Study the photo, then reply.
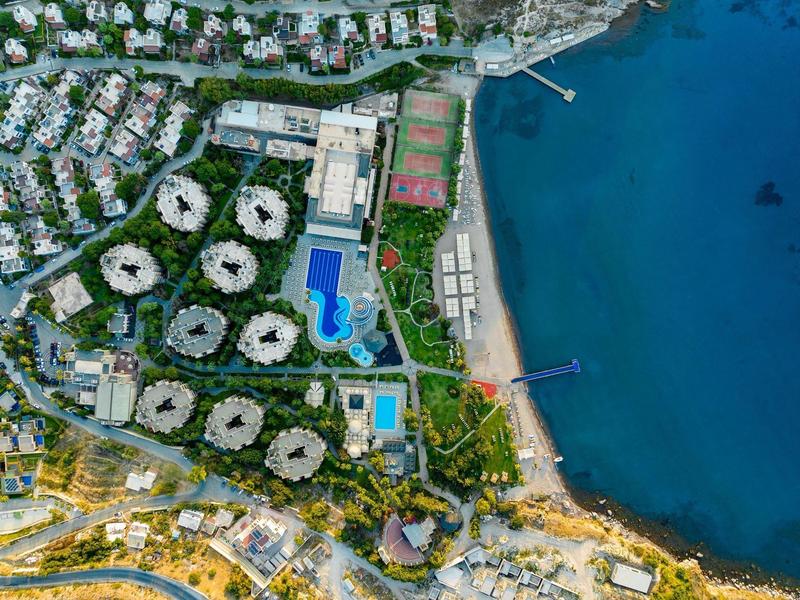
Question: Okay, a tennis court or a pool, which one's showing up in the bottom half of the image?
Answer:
pool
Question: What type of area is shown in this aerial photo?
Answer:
residential area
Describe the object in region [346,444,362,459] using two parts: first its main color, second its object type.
white umbrella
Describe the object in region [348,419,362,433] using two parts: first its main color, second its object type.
white umbrella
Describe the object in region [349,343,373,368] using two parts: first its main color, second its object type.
blue swimming pool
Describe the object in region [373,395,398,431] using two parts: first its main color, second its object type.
blue swimming pool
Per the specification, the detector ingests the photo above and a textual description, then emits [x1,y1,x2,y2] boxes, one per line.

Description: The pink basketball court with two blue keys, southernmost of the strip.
[388,172,450,208]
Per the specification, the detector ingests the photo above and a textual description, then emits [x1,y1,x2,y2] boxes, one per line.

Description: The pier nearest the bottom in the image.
[512,360,580,384]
